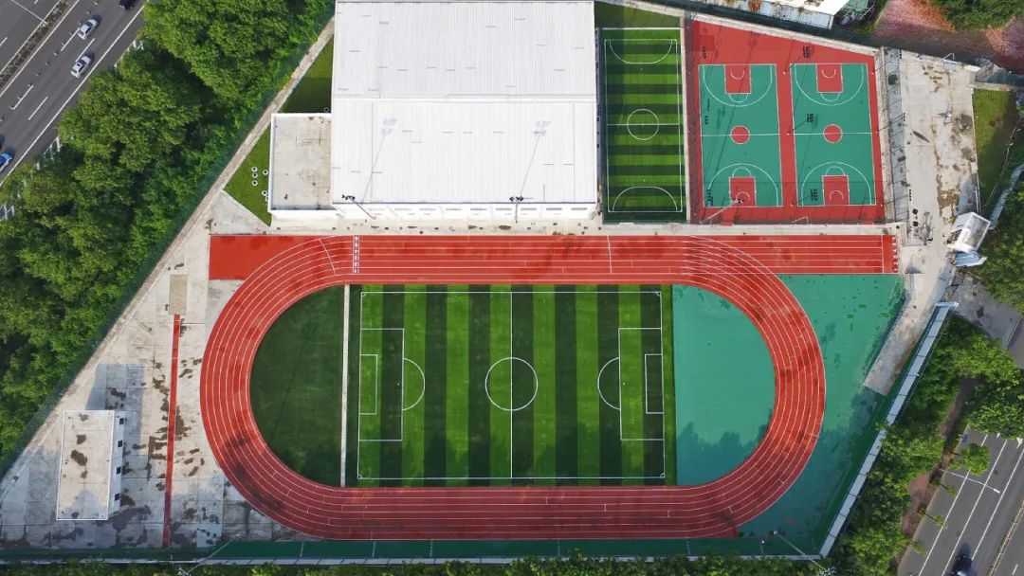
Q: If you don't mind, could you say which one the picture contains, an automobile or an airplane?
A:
automobile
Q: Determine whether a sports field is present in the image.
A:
Yes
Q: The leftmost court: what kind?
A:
basketball court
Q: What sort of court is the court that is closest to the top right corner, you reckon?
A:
basketball court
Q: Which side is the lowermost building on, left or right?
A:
left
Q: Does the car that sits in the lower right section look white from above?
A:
No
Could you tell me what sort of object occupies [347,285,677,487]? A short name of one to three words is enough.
sports field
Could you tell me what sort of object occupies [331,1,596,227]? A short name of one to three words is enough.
building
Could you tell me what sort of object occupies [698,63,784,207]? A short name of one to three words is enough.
basketball court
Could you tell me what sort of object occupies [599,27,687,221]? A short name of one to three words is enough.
sports field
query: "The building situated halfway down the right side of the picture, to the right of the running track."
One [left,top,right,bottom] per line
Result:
[941,213,990,268]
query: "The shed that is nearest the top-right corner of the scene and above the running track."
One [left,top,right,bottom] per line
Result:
[844,0,887,33]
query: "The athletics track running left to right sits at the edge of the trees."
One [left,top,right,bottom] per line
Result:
[199,234,900,541]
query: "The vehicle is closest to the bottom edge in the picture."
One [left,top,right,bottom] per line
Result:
[953,551,976,576]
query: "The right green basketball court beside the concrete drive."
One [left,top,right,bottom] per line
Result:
[790,62,876,206]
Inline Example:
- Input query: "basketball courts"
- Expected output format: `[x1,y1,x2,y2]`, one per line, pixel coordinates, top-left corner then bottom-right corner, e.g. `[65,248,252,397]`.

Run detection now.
[698,63,784,207]
[790,62,876,206]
